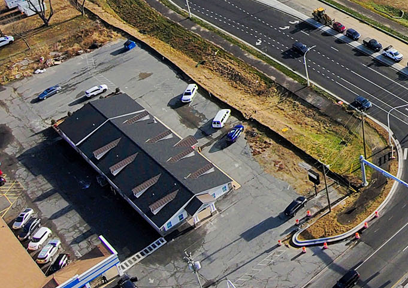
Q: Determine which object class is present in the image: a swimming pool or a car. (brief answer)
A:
car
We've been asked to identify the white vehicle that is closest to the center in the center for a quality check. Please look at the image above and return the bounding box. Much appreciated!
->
[214,105,232,129]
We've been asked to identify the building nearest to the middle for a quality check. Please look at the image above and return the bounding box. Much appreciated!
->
[53,93,241,242]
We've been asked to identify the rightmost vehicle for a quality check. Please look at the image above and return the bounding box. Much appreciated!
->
[382,47,402,61]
